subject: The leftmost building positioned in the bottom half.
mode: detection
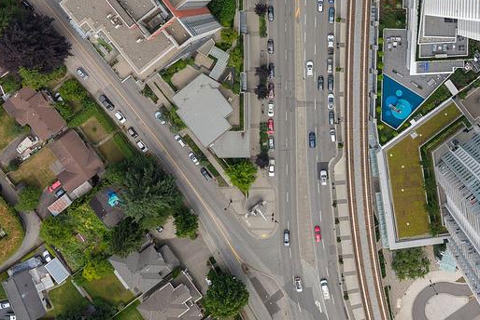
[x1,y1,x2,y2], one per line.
[3,255,73,320]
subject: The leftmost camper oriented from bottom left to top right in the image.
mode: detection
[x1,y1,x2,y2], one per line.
[14,136,38,157]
